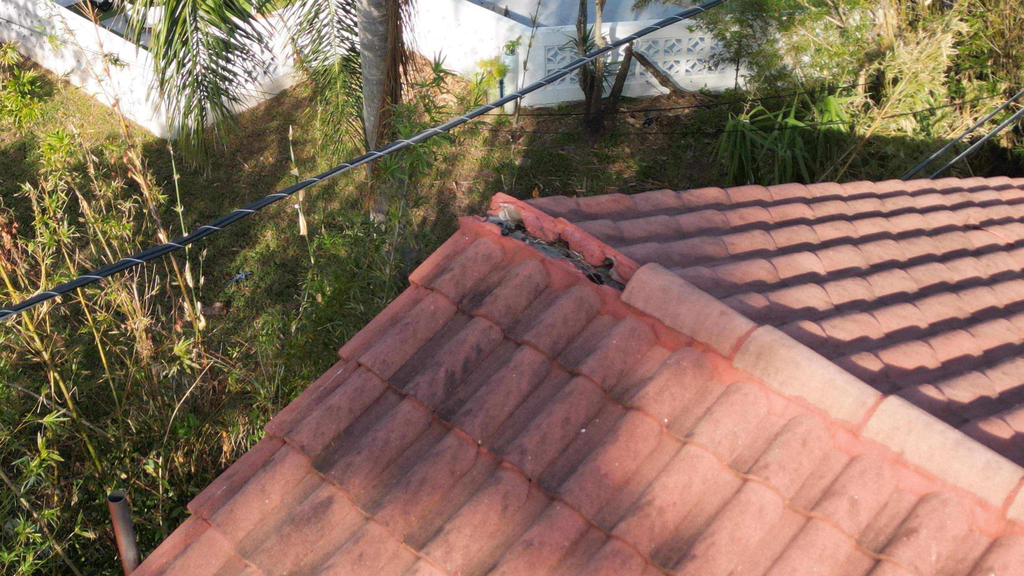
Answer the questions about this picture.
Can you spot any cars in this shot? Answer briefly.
No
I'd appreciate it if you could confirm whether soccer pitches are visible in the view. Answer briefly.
No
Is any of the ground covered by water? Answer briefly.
No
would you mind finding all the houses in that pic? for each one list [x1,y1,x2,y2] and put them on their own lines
[125,168,1024,576]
